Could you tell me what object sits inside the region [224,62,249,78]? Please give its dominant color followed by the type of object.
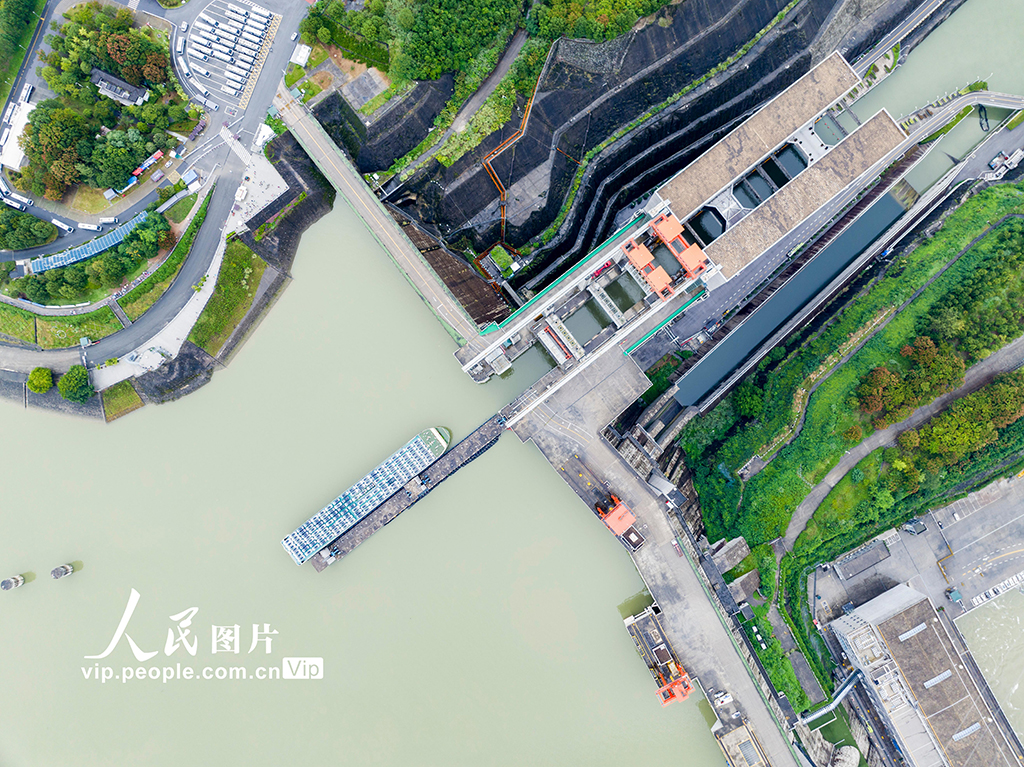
white vehicle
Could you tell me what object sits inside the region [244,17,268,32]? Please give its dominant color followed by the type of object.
white vehicle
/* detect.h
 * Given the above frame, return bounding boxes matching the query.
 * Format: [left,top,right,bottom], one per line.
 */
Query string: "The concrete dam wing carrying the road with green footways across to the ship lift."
[263,94,515,347]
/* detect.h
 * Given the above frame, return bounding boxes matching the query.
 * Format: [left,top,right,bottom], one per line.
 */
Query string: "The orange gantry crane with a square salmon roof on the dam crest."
[596,493,638,539]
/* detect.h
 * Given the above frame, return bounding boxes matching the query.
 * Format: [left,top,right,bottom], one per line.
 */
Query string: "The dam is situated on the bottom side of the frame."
[505,263,822,767]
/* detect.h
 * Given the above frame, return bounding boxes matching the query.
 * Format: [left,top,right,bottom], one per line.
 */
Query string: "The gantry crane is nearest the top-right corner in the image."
[644,211,708,283]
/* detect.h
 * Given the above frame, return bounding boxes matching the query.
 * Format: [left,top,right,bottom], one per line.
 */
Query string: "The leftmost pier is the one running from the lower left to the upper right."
[310,415,508,574]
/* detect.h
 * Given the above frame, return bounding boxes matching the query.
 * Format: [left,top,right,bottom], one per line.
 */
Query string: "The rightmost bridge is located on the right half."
[971,87,1024,112]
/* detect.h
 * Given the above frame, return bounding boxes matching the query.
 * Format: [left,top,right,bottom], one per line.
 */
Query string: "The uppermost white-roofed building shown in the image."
[291,44,313,69]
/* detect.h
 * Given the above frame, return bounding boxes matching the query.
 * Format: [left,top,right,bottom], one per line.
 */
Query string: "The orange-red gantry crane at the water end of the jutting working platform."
[650,664,697,708]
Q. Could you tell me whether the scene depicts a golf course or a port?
port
